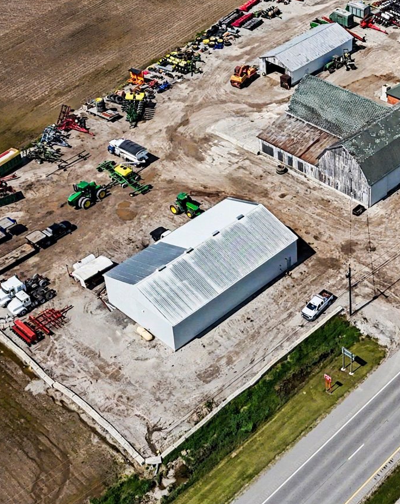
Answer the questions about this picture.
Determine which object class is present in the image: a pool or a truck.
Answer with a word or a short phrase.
truck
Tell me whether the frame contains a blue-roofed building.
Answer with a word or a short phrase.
No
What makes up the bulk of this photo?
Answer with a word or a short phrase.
paved ground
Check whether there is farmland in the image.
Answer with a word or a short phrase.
Yes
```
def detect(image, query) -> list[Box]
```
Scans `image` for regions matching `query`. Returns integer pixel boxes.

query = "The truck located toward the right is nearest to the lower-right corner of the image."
[299,294,338,322]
